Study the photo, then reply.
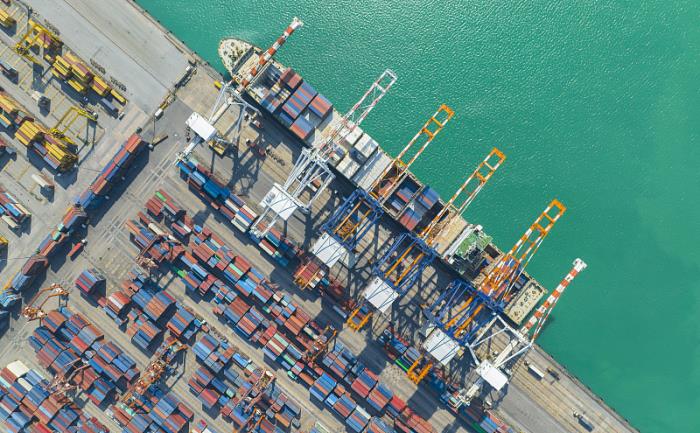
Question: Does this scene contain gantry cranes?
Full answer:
Yes, the frame does contain a gantry crane.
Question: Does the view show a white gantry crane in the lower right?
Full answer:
Yes, the scene does show a white gantry crane in the lower right.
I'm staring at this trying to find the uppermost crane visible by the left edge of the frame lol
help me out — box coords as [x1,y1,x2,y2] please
[12,21,66,70]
